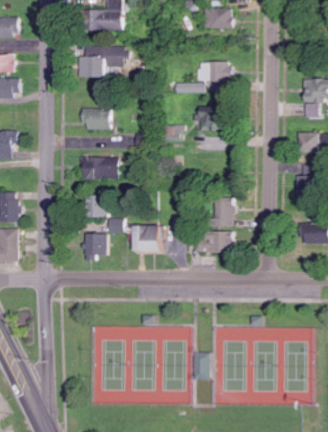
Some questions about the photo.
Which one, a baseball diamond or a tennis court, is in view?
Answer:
tennis court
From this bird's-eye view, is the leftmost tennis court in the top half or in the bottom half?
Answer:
bottom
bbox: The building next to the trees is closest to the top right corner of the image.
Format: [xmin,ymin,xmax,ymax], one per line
[303,78,328,103]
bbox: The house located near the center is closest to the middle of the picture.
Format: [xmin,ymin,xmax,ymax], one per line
[132,225,161,252]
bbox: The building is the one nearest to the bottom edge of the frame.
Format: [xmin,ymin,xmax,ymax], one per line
[194,352,214,378]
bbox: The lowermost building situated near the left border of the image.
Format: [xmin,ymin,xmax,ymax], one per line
[0,228,23,262]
